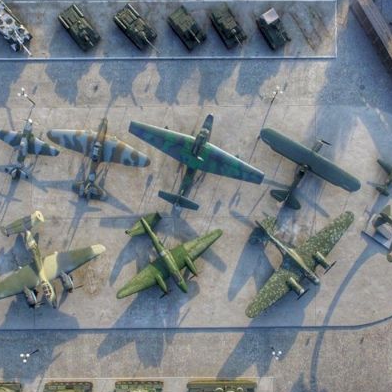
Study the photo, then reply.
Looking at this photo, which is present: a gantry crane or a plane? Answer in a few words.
plane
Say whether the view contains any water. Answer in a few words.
No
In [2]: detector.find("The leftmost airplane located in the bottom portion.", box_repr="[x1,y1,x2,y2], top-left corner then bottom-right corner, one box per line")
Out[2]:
[0,211,106,311]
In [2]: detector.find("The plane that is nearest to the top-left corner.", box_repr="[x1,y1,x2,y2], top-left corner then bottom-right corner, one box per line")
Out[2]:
[0,118,59,179]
